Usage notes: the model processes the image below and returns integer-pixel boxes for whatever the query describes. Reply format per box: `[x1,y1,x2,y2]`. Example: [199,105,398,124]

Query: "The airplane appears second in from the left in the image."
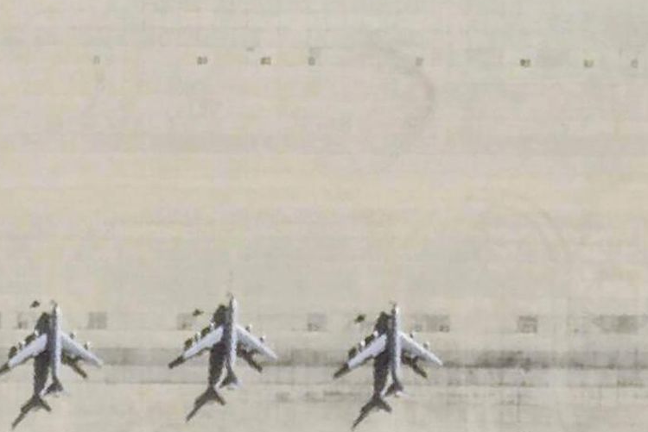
[186,297,280,391]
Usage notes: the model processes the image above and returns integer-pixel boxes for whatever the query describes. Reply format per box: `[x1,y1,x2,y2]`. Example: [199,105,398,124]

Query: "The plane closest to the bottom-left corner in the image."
[10,306,104,396]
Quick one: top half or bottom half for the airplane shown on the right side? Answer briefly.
bottom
